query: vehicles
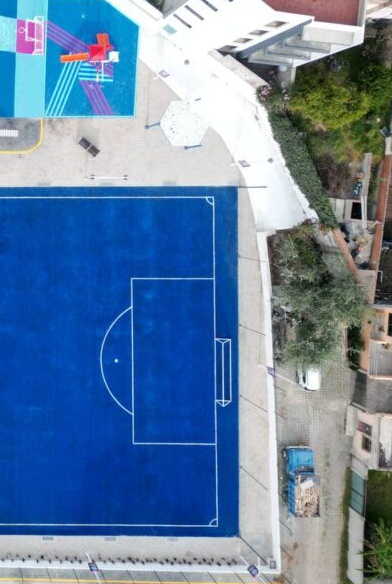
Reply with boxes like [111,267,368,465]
[296,358,319,394]
[284,443,320,523]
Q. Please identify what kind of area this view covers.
sports ground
